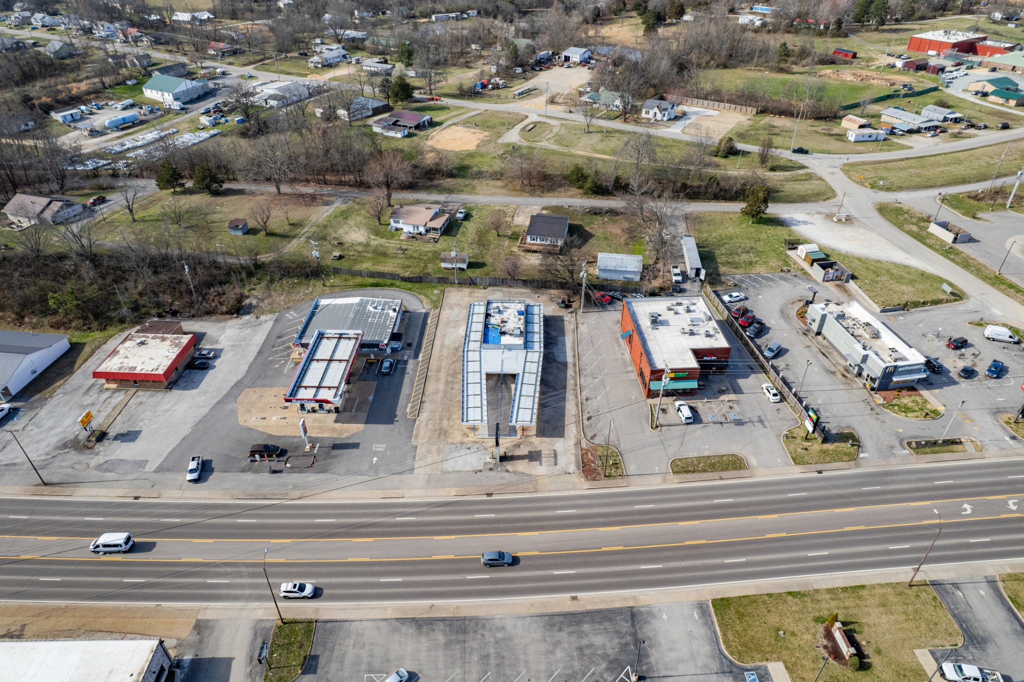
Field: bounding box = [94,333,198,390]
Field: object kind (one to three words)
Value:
building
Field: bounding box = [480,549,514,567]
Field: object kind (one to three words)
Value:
car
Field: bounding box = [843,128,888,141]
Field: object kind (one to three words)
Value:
house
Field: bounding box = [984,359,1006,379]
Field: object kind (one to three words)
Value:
vehicle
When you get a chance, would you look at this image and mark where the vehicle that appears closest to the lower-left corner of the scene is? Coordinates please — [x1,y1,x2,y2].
[90,529,135,554]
